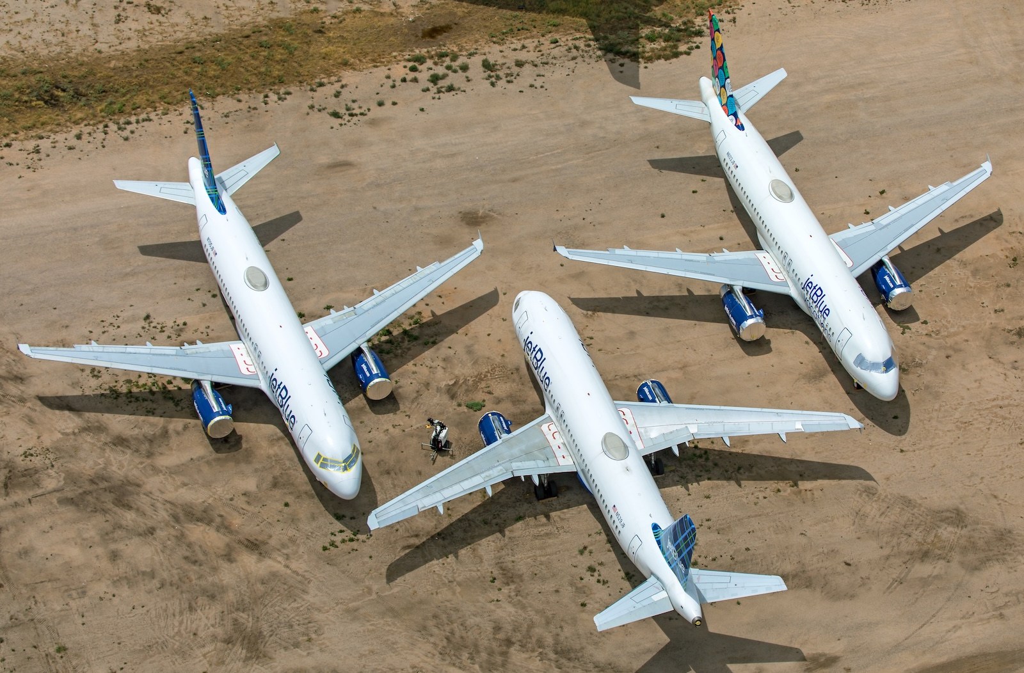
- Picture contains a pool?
No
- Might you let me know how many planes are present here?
3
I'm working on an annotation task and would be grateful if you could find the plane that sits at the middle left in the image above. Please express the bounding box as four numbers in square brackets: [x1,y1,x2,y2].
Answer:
[16,93,484,497]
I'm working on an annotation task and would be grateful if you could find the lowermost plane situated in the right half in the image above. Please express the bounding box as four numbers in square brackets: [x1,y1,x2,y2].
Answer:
[368,287,863,632]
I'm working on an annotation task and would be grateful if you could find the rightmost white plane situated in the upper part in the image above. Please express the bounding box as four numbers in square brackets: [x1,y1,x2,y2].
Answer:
[553,11,993,400]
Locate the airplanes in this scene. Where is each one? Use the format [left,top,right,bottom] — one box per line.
[368,287,863,632]
[16,93,484,497]
[553,11,993,400]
